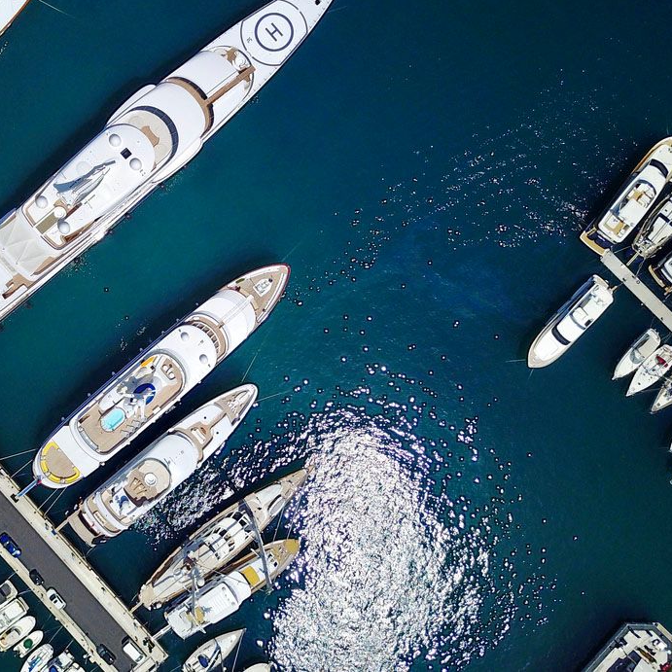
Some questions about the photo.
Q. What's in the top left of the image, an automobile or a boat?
boat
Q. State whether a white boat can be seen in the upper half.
Yes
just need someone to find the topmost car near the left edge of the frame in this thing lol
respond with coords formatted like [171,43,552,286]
[0,534,21,556]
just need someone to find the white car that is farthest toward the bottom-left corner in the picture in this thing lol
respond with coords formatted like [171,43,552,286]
[47,588,67,609]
